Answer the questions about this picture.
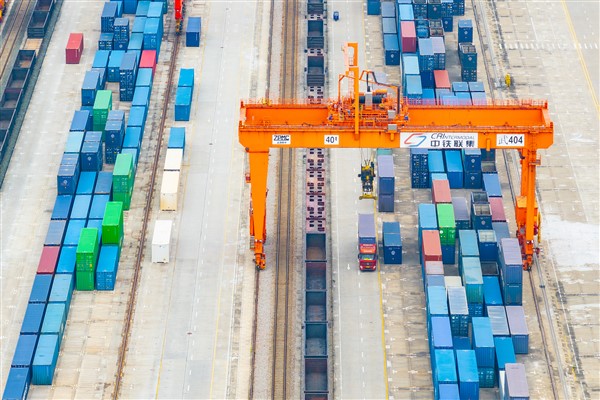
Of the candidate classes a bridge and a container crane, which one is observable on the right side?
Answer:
container crane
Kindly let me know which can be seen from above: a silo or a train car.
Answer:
train car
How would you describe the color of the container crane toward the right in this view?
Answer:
orange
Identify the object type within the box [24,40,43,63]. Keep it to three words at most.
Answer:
rail car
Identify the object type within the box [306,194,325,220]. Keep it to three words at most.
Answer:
rail car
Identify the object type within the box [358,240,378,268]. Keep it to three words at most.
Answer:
vehicle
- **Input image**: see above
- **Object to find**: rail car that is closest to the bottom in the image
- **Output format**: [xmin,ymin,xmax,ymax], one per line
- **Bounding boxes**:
[305,220,325,233]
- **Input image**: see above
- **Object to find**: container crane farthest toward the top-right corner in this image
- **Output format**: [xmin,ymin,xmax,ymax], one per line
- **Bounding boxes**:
[240,43,554,269]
